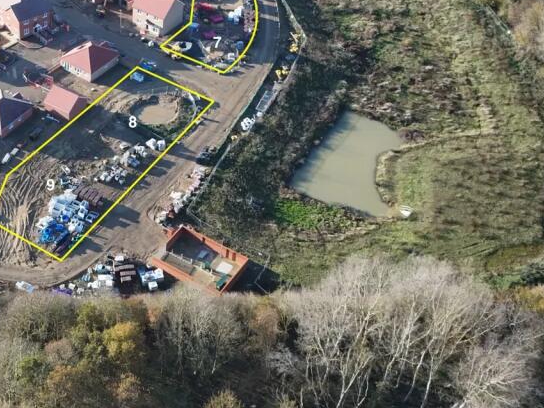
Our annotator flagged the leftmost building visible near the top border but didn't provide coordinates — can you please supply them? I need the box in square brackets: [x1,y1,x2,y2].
[0,0,53,42]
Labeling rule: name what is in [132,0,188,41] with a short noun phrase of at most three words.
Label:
house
